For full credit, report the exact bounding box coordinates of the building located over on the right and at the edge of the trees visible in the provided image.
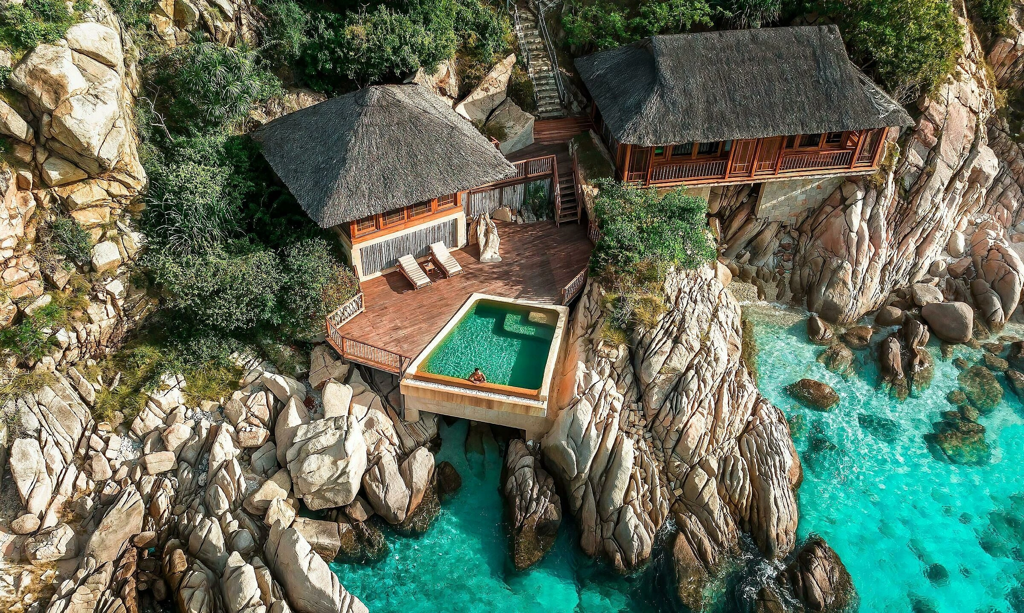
[573,17,914,194]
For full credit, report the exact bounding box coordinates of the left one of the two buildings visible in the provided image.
[250,86,520,281]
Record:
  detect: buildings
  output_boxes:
[573,17,914,194]
[250,86,520,281]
